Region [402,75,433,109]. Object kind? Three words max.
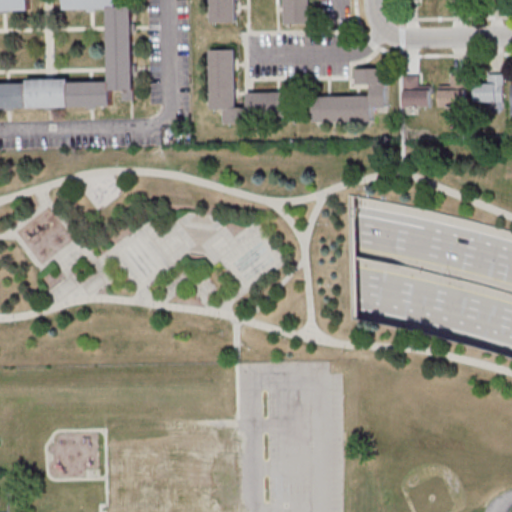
house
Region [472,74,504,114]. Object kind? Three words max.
house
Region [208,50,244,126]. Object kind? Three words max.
building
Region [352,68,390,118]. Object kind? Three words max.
building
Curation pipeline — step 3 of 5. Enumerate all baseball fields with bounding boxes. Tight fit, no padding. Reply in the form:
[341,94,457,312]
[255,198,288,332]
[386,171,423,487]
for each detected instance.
[403,464,466,512]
